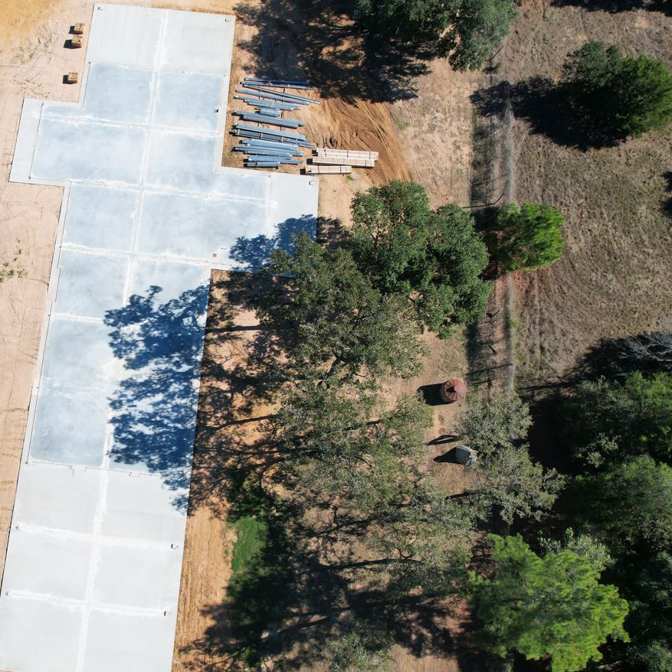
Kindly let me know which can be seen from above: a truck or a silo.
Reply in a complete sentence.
There is a silo in the scene.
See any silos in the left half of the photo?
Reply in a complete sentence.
No, I see no silo in the left half of the photo.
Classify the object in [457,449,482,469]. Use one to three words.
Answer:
shed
